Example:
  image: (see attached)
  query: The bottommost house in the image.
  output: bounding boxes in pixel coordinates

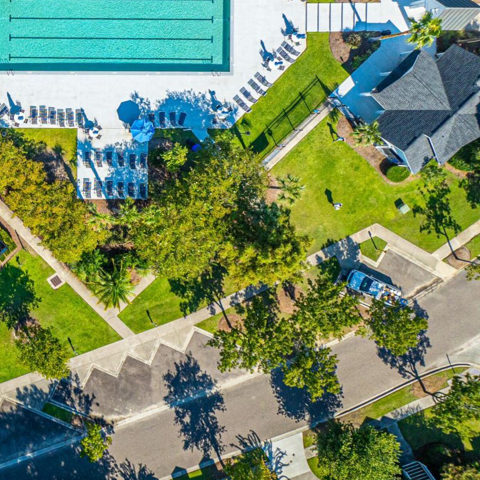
[359,45,480,175]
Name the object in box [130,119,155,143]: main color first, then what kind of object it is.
blue umbrella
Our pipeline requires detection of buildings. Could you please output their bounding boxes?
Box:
[359,45,480,175]
[412,0,478,32]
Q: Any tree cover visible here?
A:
Yes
